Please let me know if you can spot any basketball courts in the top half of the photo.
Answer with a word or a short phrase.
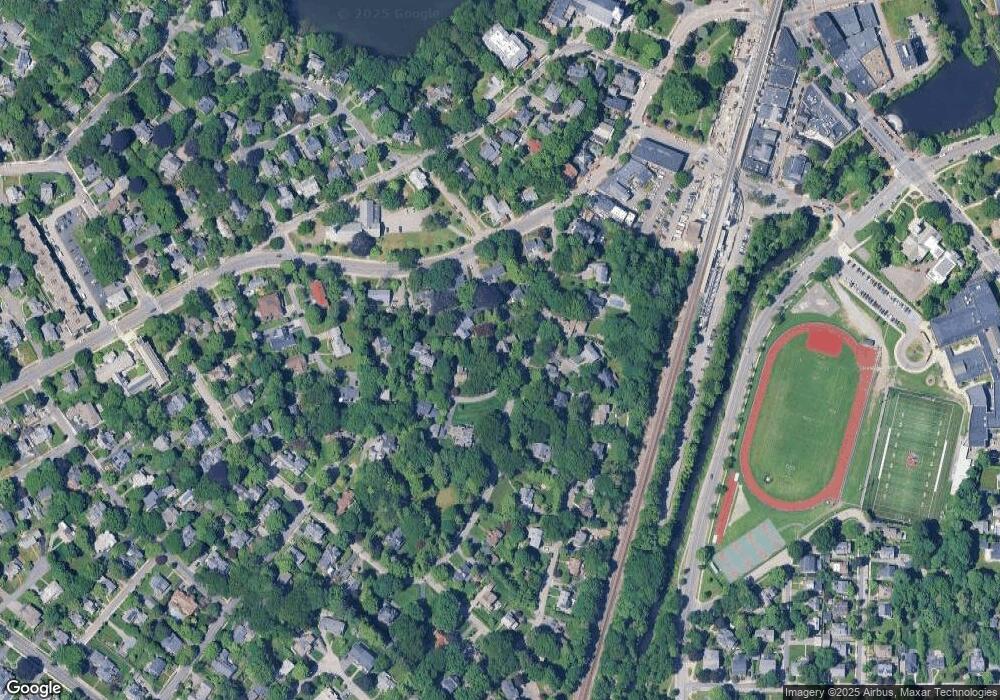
No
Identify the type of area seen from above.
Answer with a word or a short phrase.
residential area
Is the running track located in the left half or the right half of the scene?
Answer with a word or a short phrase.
right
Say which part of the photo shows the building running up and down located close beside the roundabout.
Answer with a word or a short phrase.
right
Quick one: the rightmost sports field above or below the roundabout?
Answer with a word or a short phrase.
below it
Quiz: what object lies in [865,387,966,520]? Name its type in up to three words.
sports field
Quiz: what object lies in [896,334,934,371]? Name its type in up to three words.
roundabout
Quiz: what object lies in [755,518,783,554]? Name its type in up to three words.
basketball court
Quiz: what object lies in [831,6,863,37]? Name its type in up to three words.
building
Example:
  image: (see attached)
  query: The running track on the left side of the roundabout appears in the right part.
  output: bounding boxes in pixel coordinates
[742,321,878,512]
